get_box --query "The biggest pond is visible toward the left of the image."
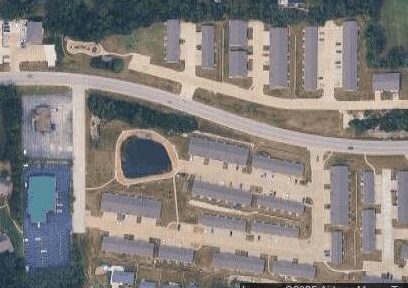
[122,138,171,178]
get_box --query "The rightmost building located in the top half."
[374,73,401,92]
